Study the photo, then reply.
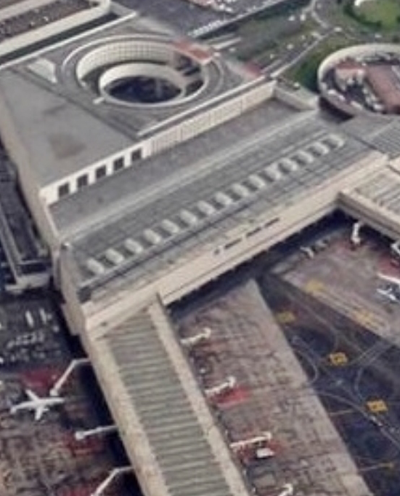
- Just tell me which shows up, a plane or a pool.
plane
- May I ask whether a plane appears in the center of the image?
No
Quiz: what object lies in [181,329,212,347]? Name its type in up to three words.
jet bridge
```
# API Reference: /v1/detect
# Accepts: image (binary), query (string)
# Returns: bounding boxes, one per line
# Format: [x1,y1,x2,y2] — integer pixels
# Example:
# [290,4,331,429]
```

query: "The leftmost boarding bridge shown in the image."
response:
[51,356,91,396]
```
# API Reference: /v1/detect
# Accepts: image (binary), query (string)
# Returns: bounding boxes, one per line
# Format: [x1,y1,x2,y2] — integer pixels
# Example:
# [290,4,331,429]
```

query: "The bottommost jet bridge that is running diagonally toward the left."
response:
[91,464,134,496]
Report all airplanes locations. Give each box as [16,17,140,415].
[8,395,65,422]
[377,275,400,301]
